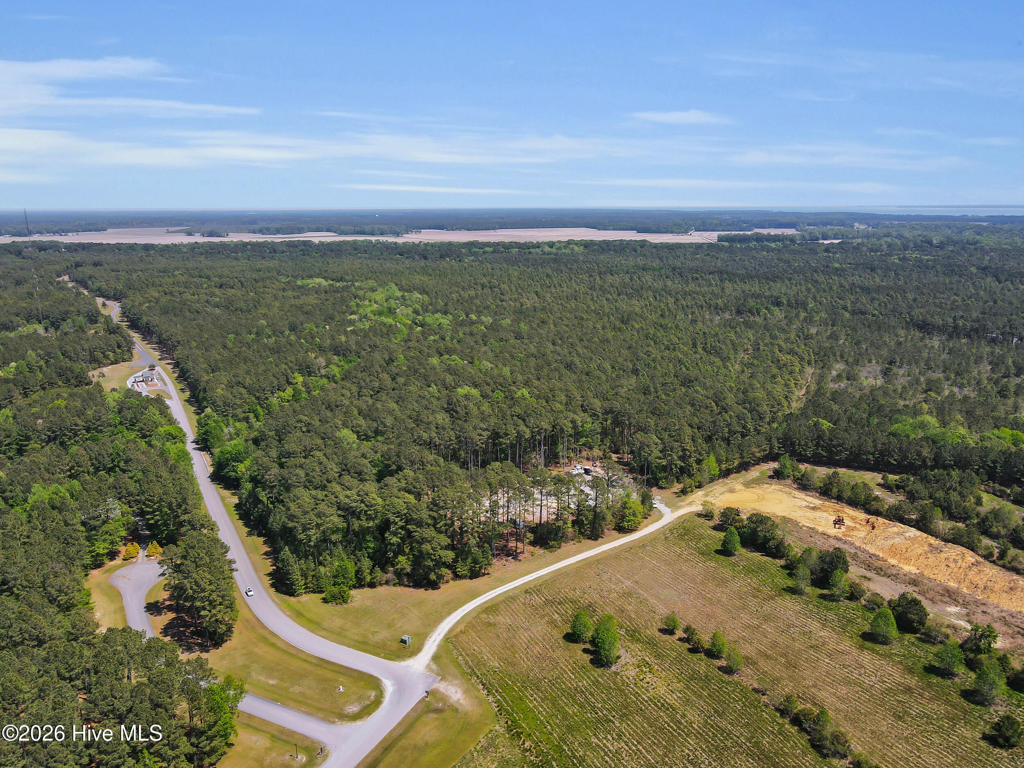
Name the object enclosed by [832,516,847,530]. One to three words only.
work vehicle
